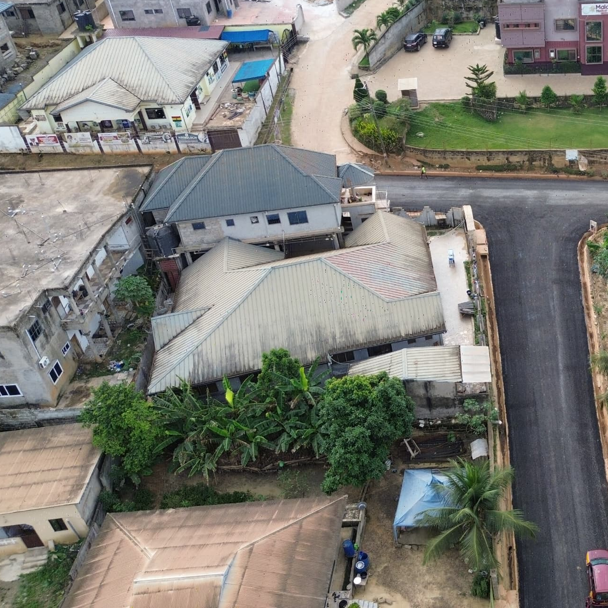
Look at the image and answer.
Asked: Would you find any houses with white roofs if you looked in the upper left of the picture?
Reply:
Yes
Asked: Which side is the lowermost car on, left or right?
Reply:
right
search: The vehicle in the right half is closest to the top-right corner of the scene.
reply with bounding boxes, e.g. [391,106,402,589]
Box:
[429,32,456,55]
